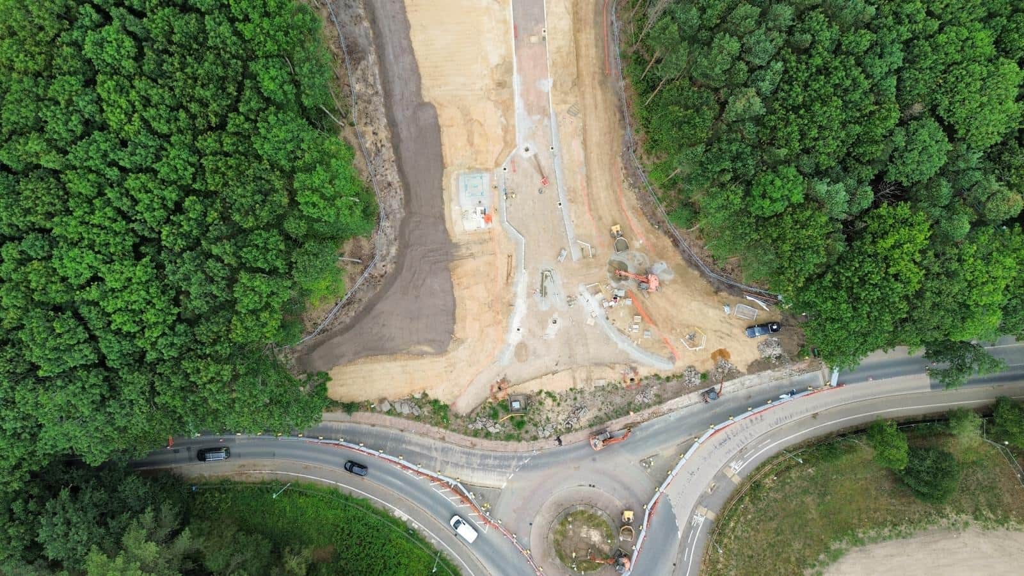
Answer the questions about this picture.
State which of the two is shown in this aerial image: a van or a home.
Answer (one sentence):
Visible in the photo is a van.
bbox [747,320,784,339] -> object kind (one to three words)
vehicle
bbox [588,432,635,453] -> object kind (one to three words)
work vehicle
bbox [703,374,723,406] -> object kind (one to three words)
work vehicle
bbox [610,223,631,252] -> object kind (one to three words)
truck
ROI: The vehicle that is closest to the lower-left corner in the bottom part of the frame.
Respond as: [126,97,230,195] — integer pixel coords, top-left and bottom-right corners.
[195,447,228,463]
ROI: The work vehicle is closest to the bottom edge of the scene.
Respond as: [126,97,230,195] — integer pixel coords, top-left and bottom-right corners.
[596,555,631,573]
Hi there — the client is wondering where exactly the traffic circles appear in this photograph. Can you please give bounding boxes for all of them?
[461,441,697,576]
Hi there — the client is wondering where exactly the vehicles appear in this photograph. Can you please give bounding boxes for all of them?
[449,516,479,548]
[610,223,631,252]
[596,555,631,573]
[703,374,723,406]
[195,447,228,463]
[342,461,368,478]
[588,432,635,453]
[747,320,784,339]
[612,267,663,296]
[621,511,637,545]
